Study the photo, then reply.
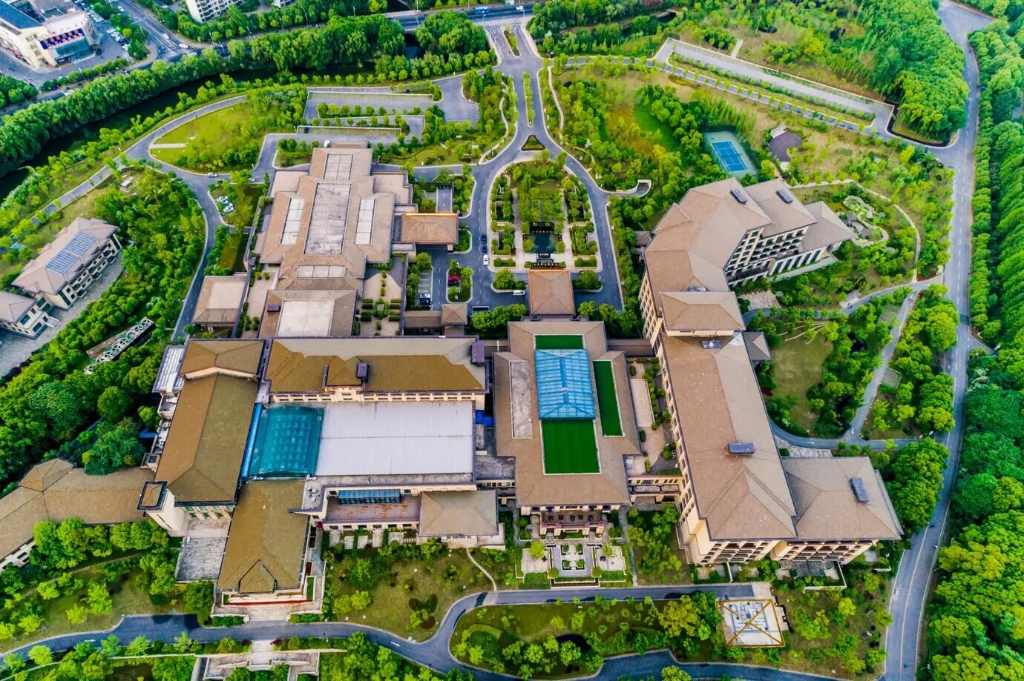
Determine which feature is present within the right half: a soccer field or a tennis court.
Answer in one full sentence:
What appears within the right half is a tennis court.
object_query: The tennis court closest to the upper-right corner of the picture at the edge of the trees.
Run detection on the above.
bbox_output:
[705,124,761,178]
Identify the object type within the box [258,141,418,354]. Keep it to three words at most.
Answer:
building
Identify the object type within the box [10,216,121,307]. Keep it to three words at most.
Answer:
house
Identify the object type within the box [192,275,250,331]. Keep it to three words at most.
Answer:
building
